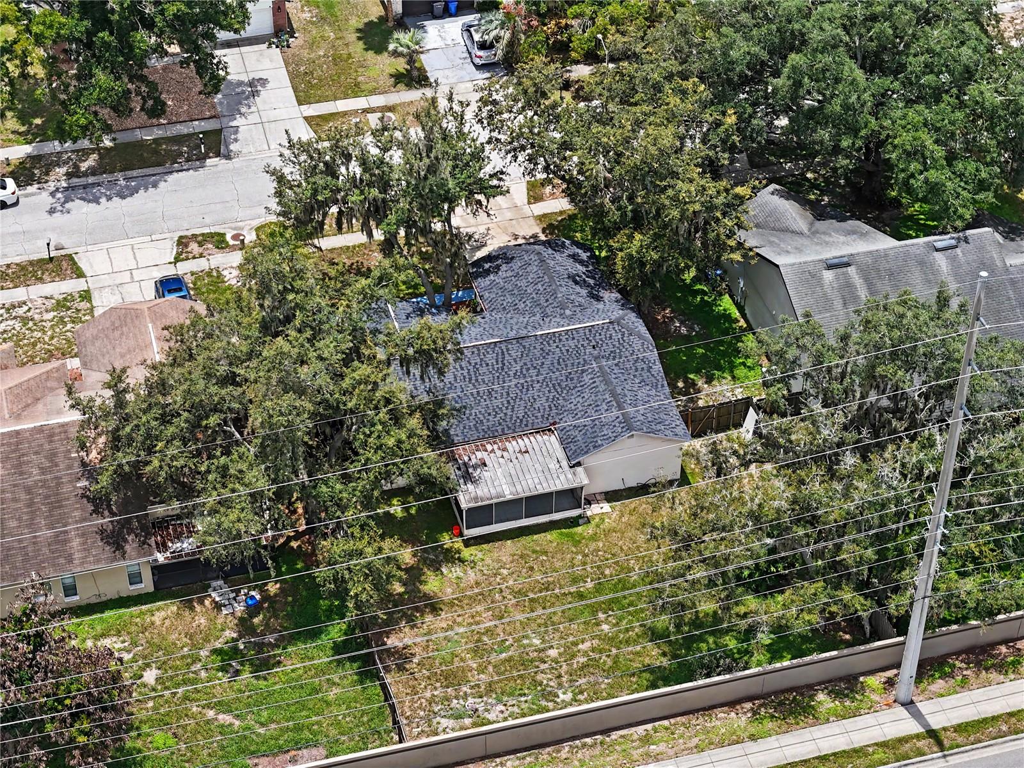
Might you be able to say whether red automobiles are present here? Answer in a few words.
No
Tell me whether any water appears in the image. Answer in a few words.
No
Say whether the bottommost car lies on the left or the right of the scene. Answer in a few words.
left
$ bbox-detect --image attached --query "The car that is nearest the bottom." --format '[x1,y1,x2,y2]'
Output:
[158,269,192,297]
